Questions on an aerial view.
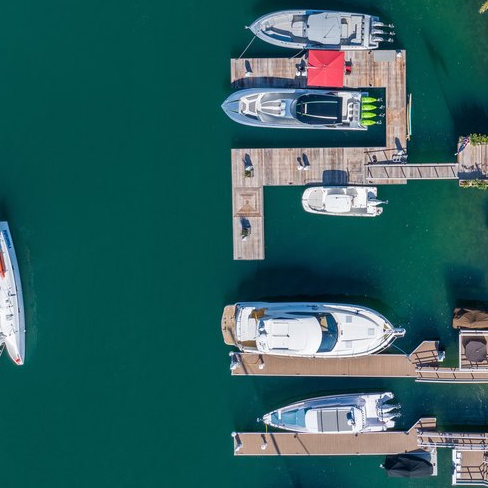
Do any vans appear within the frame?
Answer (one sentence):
No, no van can be seen from above.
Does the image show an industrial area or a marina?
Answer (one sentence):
The area seen from above is a marina.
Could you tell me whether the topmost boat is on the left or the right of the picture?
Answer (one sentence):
The topmost boat appears in the right half of the scene.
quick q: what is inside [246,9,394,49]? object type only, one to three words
boat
